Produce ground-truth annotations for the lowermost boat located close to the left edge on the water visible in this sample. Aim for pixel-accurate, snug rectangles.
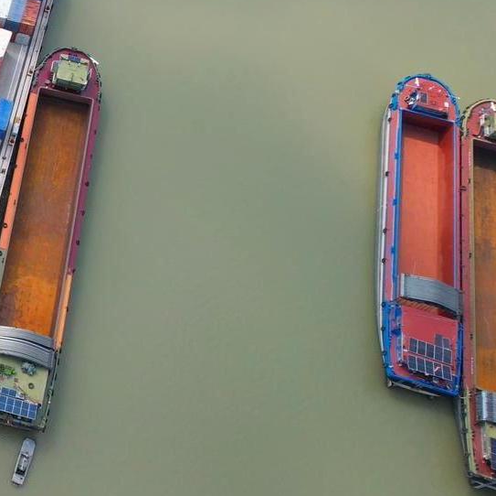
[12,437,36,487]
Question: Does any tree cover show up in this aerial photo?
No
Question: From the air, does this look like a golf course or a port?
port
